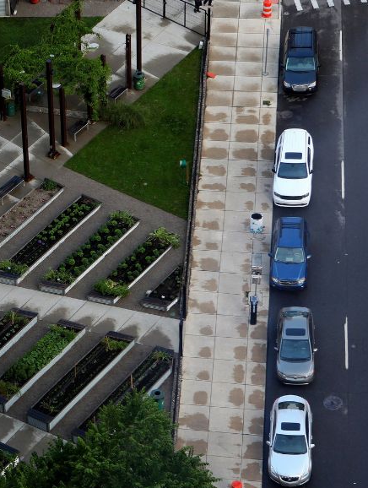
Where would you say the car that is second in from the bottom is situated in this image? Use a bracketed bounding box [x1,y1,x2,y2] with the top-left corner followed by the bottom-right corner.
[274,306,320,382]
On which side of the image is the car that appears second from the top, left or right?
right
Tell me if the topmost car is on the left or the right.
right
